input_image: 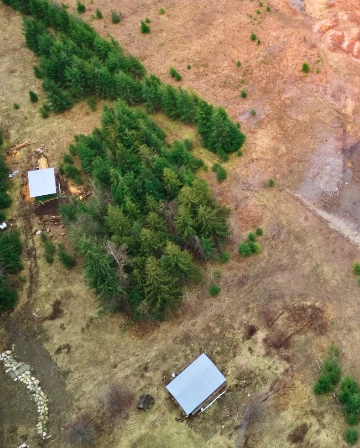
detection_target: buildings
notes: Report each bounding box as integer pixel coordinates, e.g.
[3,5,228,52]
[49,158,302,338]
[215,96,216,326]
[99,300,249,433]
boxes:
[30,165,65,206]
[138,395,155,412]
[164,354,226,420]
